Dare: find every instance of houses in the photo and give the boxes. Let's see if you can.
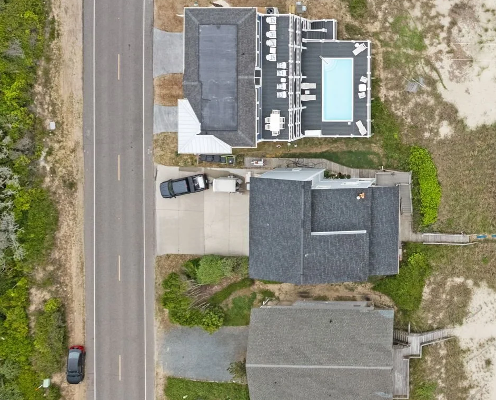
[250,169,400,284]
[177,6,312,154]
[245,294,396,400]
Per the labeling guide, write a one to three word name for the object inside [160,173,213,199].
truck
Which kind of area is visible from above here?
residential area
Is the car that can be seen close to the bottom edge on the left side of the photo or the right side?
left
